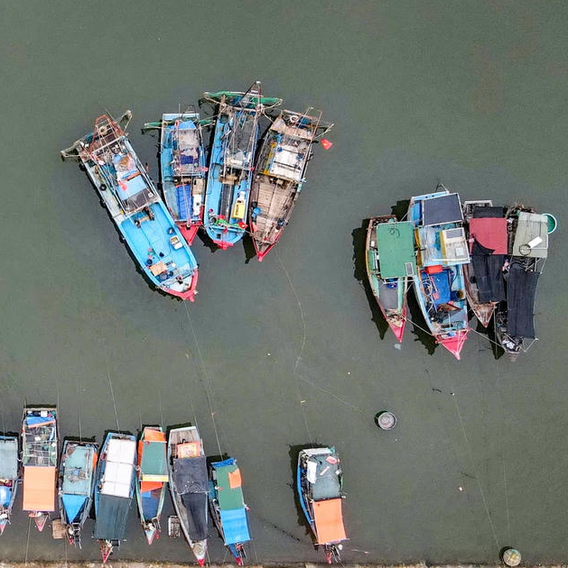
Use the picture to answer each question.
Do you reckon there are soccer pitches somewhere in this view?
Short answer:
No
